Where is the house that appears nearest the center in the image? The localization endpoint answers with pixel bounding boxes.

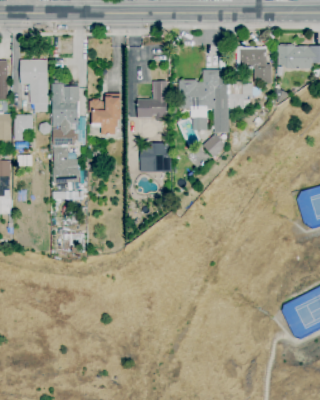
[140,141,170,171]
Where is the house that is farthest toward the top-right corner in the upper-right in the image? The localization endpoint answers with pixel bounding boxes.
[278,44,320,68]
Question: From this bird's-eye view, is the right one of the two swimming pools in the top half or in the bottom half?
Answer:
top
